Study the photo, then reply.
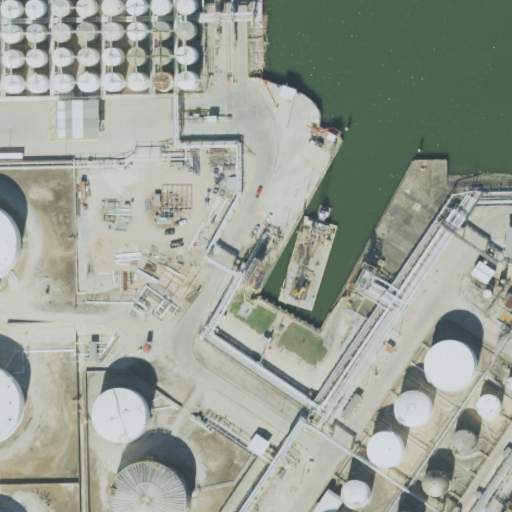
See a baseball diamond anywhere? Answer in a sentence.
No, no baseball diamond is visible in the scene.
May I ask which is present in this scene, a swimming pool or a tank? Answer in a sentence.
Looking from above, you can make out a tank.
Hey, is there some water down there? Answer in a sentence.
Yes, water shows up in the scene.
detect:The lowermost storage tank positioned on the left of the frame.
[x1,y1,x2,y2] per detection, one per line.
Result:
[110,458,190,512]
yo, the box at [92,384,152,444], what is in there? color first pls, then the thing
white storage tank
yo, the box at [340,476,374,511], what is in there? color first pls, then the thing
white storage tank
